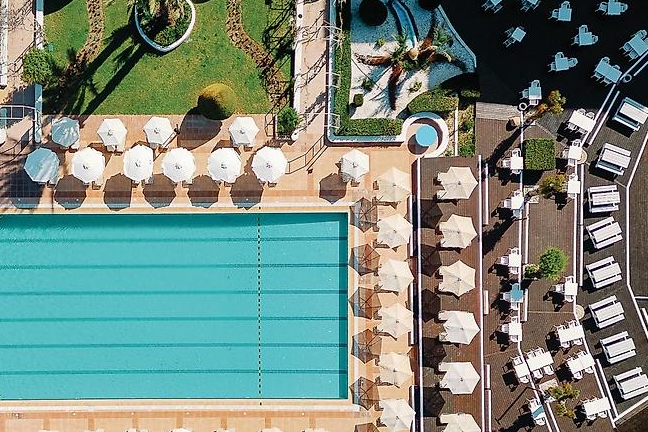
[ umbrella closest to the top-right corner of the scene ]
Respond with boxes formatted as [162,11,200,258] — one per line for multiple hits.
[438,167,477,202]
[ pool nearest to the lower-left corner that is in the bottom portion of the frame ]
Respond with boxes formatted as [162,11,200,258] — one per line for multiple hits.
[0,214,347,399]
